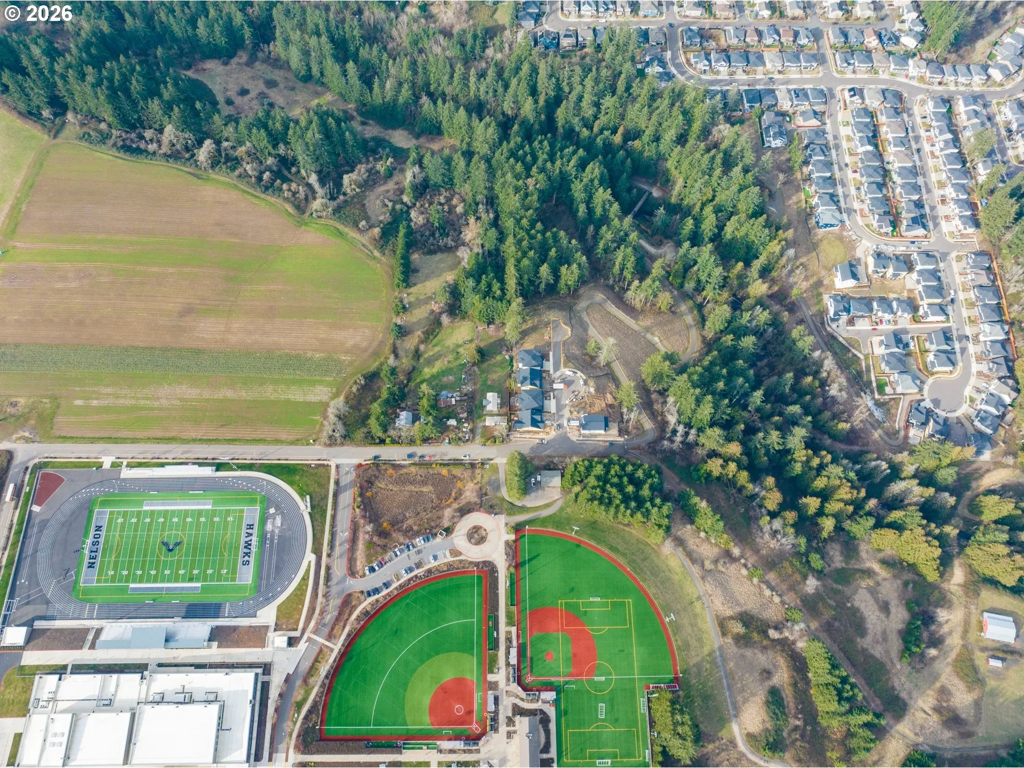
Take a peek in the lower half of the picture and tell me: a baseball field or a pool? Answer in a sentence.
The feature located in the lower half of the picture is a baseball field.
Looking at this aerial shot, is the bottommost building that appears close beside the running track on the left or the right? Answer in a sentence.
The bottommost building that appears close beside the running track is on the left side of the image.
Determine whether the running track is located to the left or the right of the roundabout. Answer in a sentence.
Looking at the photo, the running track lies to the left of the roundabout.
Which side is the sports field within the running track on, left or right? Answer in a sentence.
The sports field within the running track appears in the left half of the scene.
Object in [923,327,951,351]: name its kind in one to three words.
house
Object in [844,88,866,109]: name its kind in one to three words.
house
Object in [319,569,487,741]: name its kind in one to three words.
baseball field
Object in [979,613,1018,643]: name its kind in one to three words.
barn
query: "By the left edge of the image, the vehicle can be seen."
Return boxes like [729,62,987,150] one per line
[4,483,17,500]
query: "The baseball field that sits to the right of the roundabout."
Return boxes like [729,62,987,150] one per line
[515,527,681,768]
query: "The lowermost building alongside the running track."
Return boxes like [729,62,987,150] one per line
[15,671,267,768]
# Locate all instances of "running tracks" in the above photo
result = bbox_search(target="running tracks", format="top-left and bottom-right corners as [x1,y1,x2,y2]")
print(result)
[0,467,315,627]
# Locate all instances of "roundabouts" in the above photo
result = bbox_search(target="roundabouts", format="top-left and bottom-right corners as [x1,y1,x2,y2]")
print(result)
[454,513,500,558]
